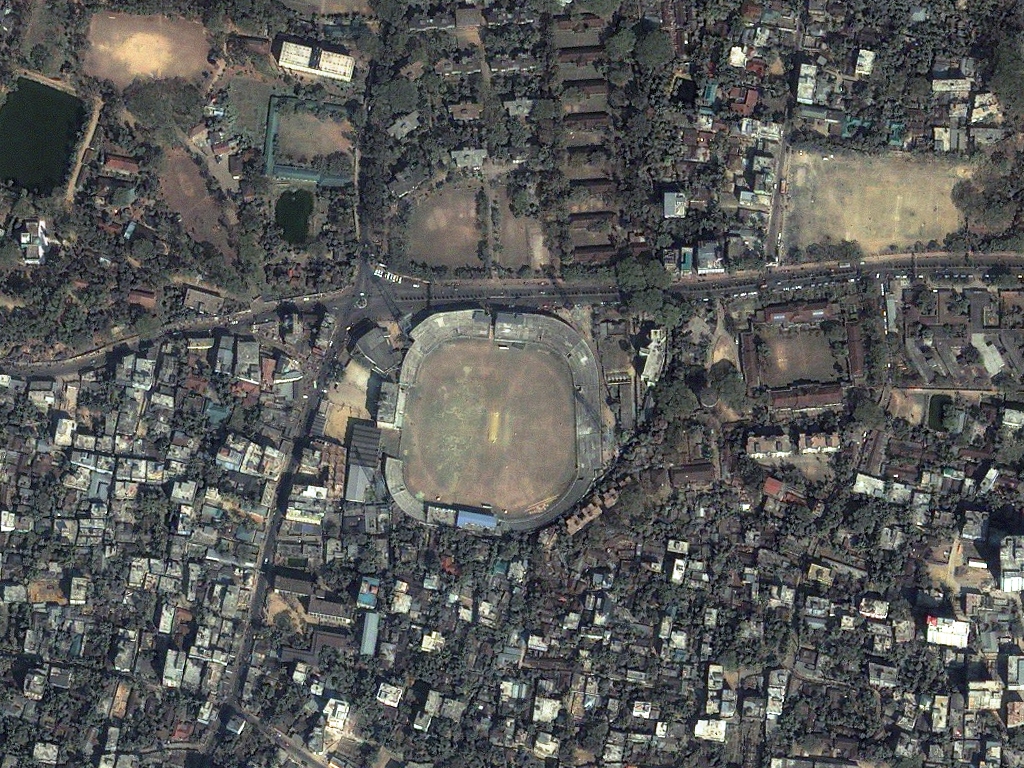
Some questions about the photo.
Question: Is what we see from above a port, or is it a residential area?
residential area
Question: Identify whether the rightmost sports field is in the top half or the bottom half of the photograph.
top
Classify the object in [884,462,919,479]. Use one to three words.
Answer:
house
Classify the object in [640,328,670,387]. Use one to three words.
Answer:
building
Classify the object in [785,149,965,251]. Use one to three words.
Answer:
sports field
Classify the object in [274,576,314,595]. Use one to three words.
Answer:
shed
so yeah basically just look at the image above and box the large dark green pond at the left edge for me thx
[0,79,85,188]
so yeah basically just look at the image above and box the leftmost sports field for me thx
[84,10,211,95]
